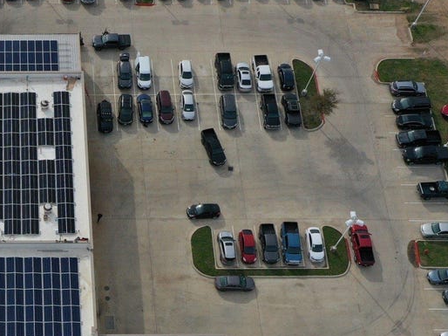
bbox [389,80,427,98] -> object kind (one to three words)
car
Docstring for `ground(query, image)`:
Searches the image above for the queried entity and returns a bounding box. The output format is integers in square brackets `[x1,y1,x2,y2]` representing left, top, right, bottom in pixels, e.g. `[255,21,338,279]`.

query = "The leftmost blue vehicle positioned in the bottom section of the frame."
[279,221,304,266]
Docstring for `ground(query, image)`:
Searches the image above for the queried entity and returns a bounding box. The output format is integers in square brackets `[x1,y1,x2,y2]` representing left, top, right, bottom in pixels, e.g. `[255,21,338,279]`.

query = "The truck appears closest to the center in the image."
[198,126,226,169]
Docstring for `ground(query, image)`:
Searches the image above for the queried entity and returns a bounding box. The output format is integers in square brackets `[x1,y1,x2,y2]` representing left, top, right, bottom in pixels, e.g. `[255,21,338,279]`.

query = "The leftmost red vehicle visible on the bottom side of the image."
[238,230,258,262]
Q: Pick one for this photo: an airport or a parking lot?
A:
parking lot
